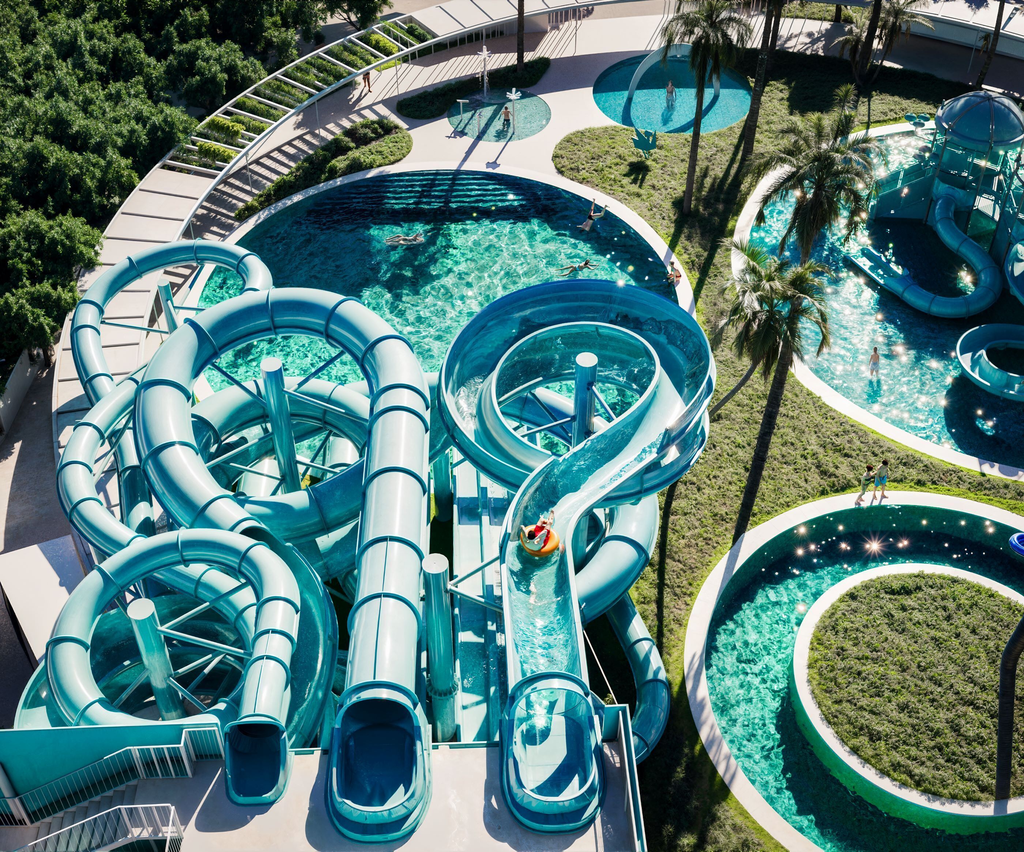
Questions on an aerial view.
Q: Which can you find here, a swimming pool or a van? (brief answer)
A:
swimming pool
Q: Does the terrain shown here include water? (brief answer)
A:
Yes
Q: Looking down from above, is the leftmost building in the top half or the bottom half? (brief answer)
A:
bottom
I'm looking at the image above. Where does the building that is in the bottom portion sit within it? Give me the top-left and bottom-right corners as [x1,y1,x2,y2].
[0,535,83,646]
